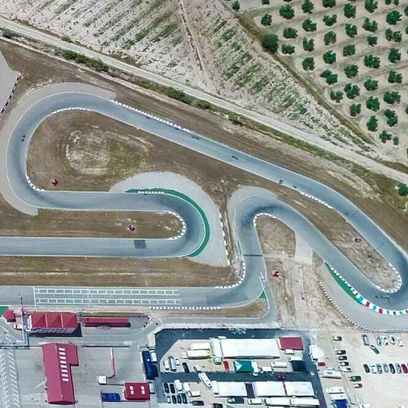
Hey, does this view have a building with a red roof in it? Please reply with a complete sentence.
Yes, you can see a building with a red roof in this photo.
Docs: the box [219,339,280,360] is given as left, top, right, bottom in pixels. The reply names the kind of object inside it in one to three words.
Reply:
tent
